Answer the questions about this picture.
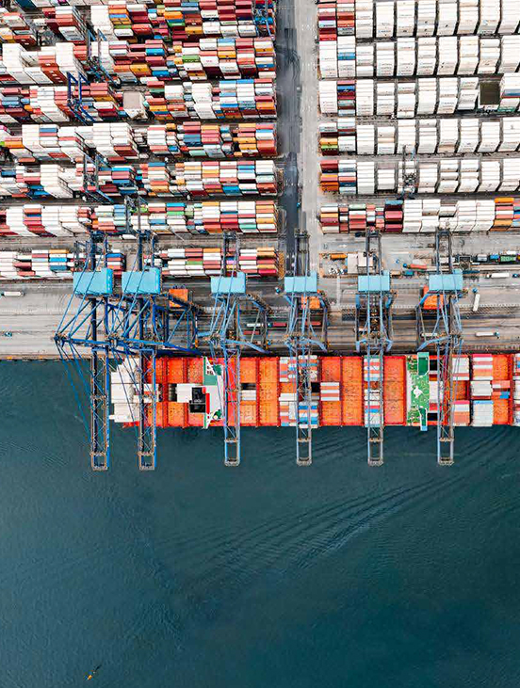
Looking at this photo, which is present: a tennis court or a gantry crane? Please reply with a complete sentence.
The one in the frame is a gantry crane.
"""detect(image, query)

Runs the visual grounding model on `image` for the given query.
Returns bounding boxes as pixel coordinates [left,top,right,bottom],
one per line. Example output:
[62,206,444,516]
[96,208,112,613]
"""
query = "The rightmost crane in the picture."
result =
[408,230,466,468]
